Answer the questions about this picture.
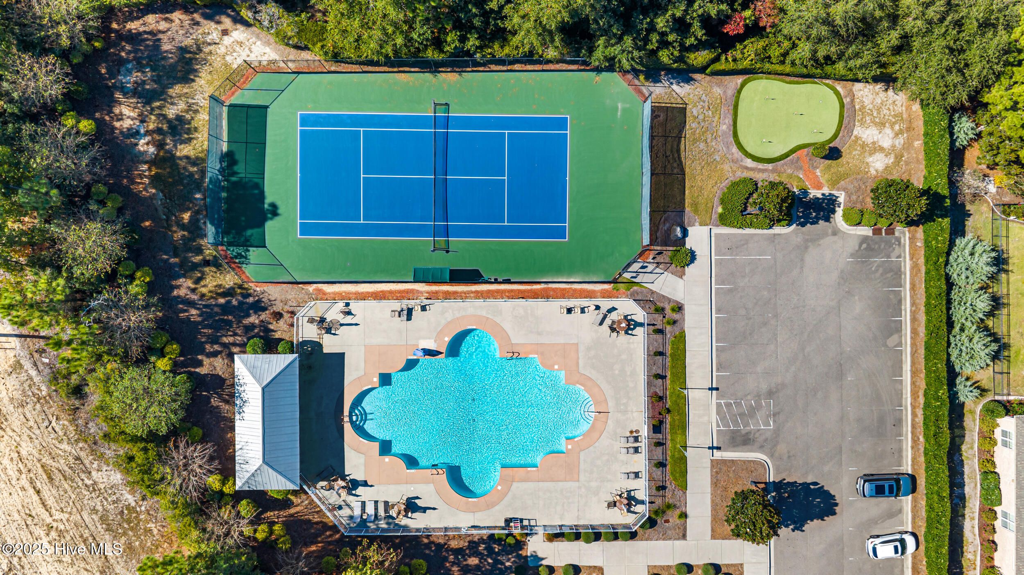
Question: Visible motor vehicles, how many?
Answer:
2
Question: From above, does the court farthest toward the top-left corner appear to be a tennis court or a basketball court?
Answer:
tennis court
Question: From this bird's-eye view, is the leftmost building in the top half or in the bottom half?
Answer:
bottom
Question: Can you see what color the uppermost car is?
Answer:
blue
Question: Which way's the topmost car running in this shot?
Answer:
horizontally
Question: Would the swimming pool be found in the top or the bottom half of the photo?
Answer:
bottom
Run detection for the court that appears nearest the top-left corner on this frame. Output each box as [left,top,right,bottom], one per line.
[224,72,643,281]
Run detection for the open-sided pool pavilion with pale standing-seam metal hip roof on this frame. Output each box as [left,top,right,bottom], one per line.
[234,353,310,491]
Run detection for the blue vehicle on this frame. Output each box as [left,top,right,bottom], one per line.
[857,473,915,501]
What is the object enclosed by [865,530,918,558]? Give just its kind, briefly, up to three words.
car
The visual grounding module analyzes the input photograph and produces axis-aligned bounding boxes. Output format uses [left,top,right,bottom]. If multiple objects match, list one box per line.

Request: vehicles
[857,473,915,501]
[865,530,918,558]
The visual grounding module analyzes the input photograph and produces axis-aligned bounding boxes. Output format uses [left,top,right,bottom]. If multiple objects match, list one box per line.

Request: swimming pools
[335,314,609,513]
